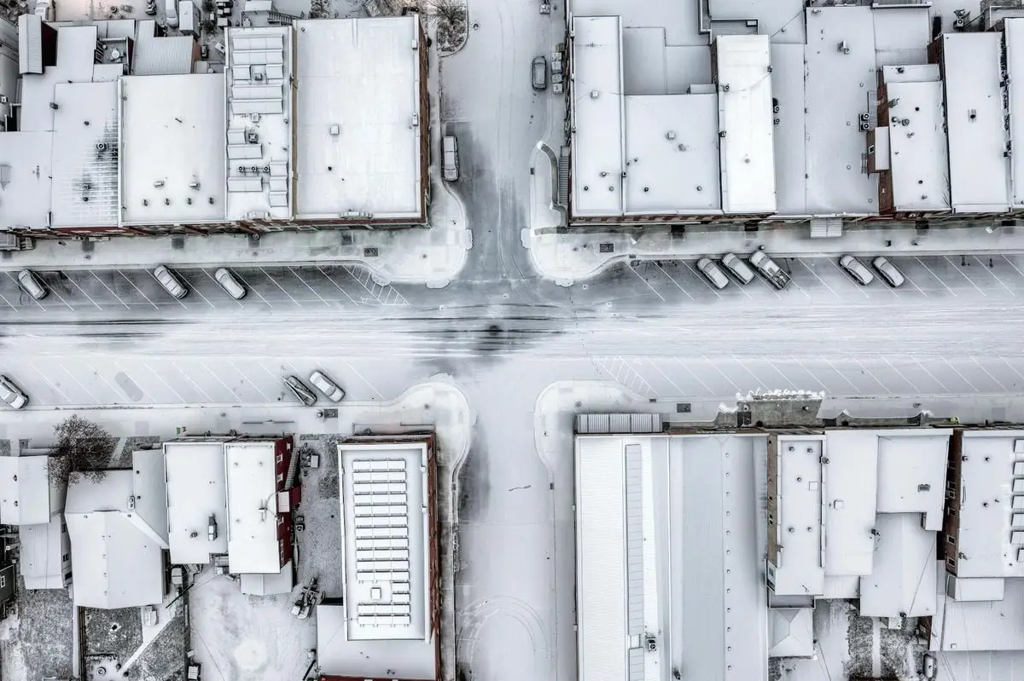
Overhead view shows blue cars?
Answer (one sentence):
No, there appears to be no blue car in this shot.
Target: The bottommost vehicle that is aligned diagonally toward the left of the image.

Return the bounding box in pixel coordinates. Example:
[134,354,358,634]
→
[291,586,313,616]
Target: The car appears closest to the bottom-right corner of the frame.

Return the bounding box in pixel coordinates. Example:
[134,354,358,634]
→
[920,652,938,679]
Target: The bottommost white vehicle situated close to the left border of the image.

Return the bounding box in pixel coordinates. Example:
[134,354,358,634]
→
[0,373,30,408]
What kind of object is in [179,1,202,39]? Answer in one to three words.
trailer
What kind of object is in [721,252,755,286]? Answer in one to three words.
car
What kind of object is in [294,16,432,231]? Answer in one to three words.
building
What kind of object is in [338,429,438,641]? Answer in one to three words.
building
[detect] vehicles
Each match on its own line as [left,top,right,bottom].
[697,256,728,290]
[838,254,873,287]
[750,250,791,289]
[215,265,248,300]
[154,263,190,300]
[721,252,755,286]
[0,373,30,408]
[144,0,161,17]
[19,267,50,301]
[291,586,313,616]
[531,55,547,92]
[310,370,345,403]
[288,376,318,407]
[441,136,459,182]
[161,0,181,29]
[920,652,938,679]
[870,255,905,289]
